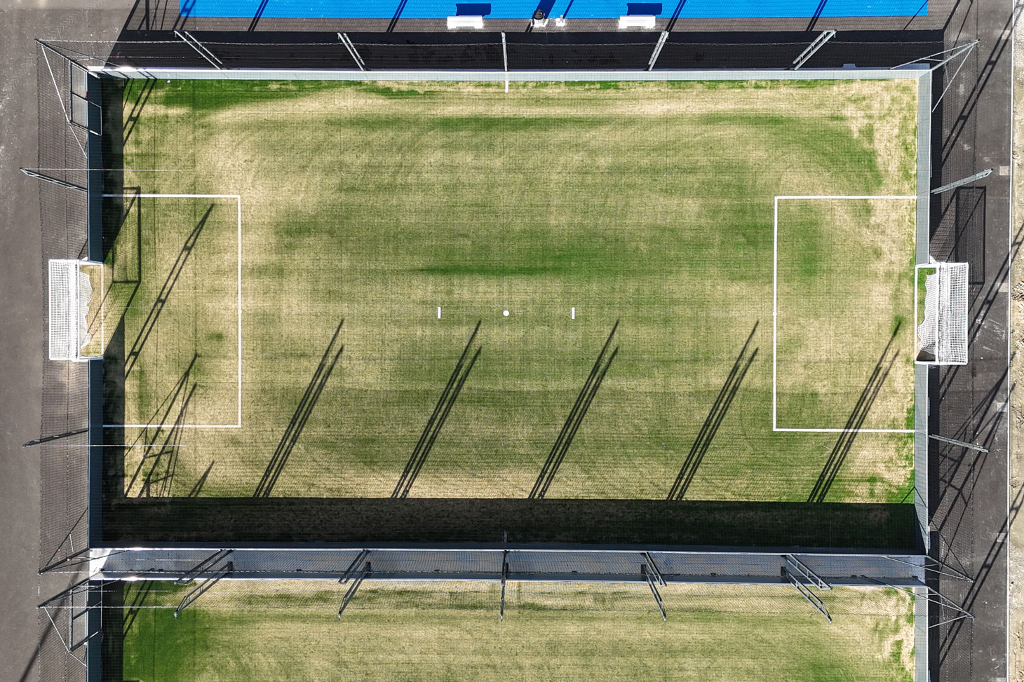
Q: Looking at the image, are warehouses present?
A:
No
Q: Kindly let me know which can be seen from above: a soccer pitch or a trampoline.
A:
soccer pitch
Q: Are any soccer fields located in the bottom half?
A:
Yes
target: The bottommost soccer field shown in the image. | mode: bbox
[102,580,913,682]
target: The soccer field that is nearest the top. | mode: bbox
[74,79,944,547]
